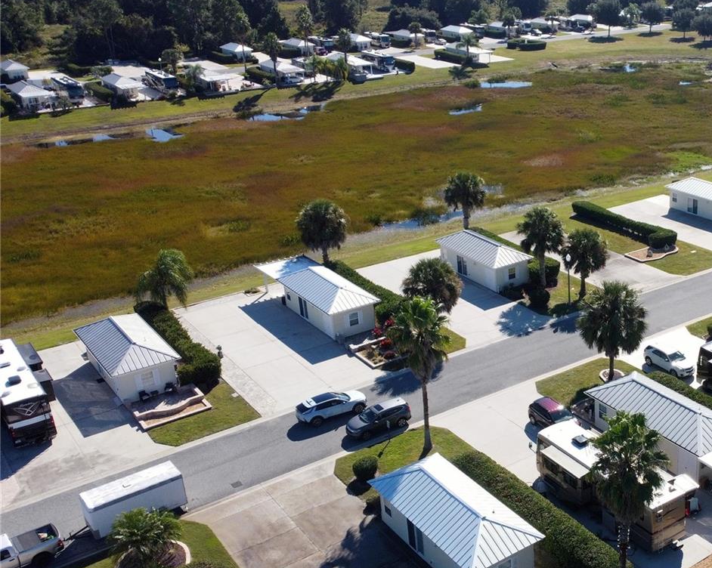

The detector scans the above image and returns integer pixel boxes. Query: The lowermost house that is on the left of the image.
[71,313,182,405]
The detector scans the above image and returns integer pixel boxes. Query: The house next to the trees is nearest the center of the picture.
[250,253,384,344]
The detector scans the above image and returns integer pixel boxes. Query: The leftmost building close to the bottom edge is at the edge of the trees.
[367,453,549,568]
